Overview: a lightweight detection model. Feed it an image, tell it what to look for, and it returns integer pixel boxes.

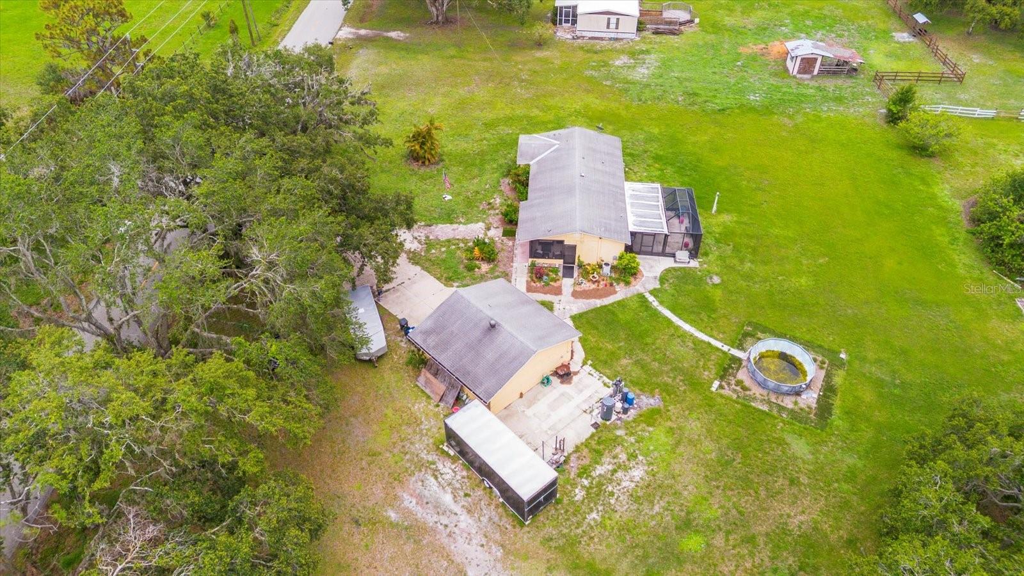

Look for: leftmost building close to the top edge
[557,0,641,38]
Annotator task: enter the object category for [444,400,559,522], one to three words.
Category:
trailer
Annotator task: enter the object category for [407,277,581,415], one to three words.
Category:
building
